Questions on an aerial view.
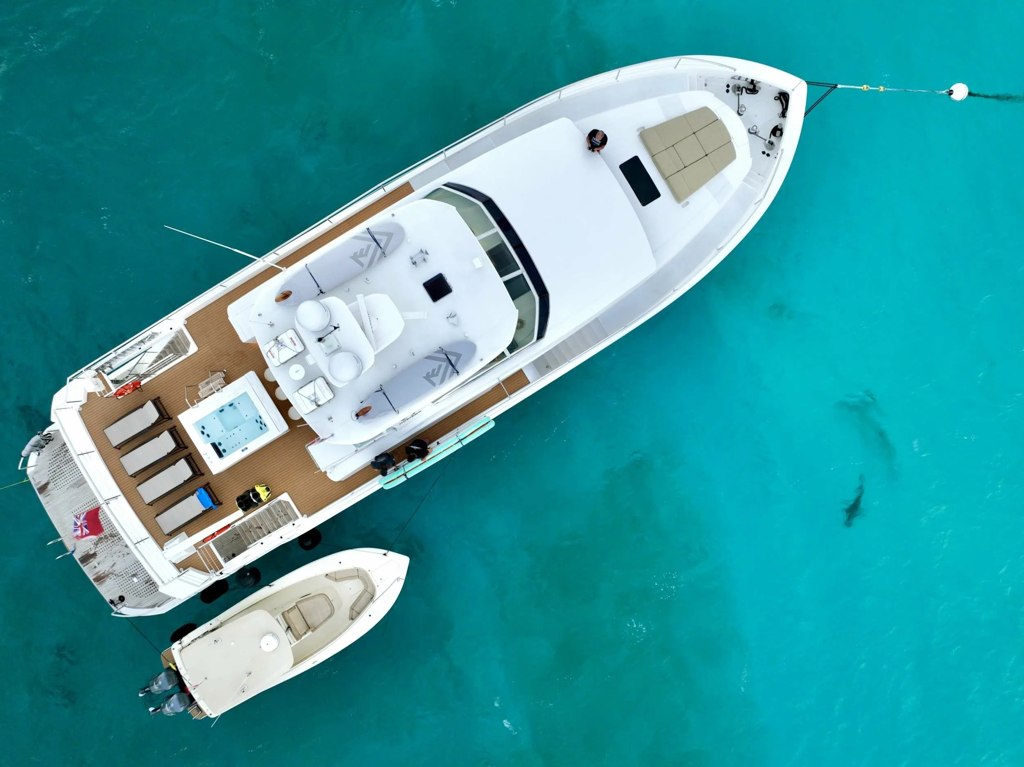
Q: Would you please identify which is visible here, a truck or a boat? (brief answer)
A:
boat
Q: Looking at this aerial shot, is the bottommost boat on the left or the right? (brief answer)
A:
left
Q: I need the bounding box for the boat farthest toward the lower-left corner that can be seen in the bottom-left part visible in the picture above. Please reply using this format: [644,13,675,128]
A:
[134,547,411,727]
